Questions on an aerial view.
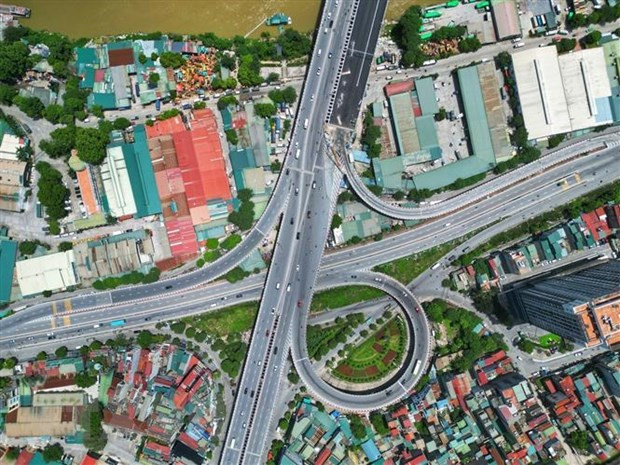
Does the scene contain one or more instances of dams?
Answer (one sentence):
No, I can see no dam in this picture.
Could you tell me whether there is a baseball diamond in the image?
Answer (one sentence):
No, there isn't any baseball diamond down there.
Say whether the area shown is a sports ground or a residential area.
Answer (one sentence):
It's a residential area.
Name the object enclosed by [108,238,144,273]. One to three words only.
building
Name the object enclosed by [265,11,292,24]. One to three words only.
boat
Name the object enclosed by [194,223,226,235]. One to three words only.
shed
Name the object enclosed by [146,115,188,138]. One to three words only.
house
